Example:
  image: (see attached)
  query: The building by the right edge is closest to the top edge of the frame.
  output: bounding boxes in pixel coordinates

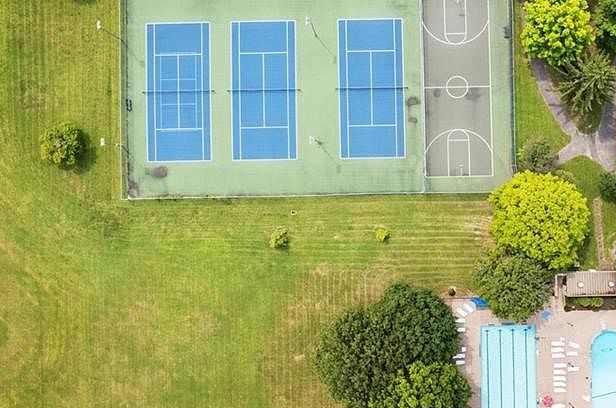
[563,269,616,296]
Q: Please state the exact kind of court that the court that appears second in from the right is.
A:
tennis court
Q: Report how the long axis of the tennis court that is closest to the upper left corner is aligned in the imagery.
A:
vertically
